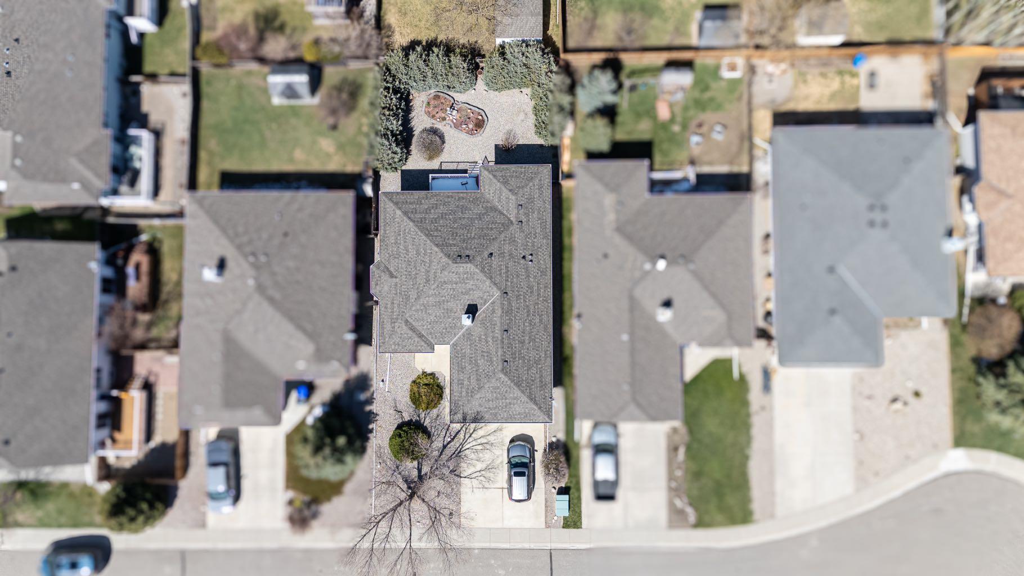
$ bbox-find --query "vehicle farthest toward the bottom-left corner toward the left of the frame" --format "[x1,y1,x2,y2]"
[42,548,105,576]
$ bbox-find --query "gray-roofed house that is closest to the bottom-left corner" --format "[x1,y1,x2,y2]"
[0,240,123,468]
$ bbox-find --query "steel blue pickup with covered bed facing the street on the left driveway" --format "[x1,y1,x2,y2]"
[201,433,240,515]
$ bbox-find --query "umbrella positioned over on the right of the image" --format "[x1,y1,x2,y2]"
[845,56,864,73]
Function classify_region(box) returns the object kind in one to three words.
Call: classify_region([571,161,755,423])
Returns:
house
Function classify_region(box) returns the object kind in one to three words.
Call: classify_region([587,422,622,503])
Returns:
truck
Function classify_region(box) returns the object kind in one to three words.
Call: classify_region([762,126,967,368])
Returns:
house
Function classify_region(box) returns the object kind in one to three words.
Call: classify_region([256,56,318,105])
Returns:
shed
